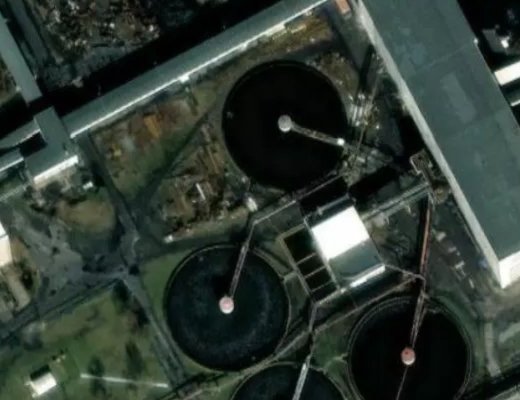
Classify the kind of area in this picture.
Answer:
industrial area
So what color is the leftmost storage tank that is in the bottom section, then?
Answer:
black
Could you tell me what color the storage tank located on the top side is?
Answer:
black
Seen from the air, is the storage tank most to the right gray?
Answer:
No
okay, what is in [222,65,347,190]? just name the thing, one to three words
storage tank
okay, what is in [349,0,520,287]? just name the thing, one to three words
building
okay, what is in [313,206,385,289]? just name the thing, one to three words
building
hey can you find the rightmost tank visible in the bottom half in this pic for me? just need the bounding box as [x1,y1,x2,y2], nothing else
[347,295,471,400]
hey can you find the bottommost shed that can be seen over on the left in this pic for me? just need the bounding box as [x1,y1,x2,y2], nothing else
[29,371,57,396]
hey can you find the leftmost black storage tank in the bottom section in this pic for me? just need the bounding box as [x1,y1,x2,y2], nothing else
[165,240,289,369]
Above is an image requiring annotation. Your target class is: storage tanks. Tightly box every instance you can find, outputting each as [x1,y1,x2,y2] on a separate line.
[165,240,289,369]
[347,295,471,400]
[232,361,347,400]
[222,65,347,190]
